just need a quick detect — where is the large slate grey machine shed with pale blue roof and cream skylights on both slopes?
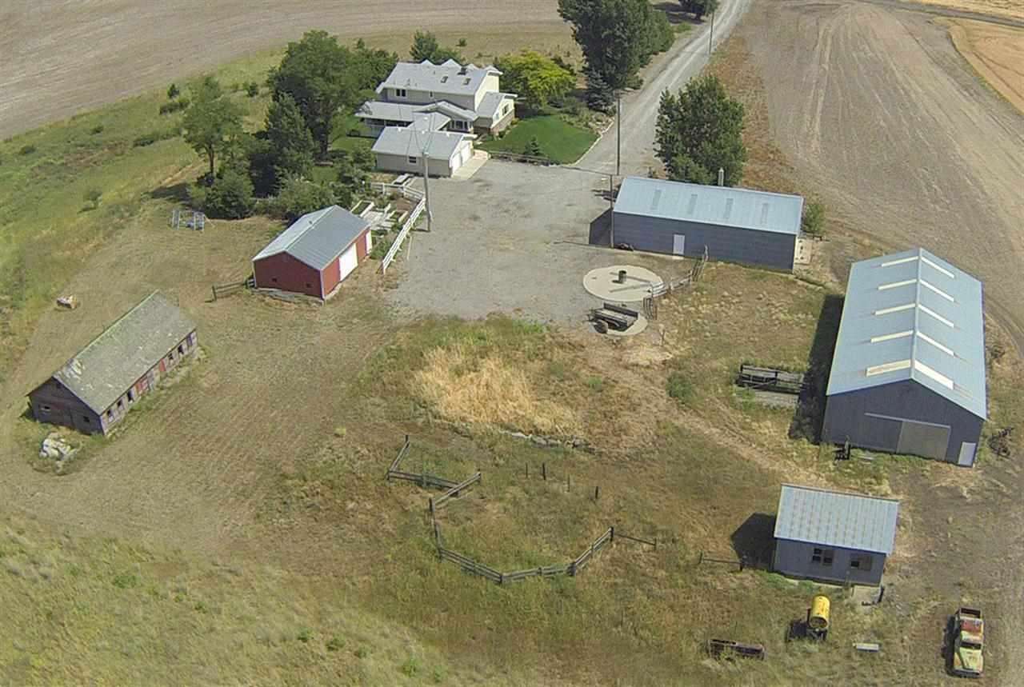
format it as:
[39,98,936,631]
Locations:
[821,248,987,469]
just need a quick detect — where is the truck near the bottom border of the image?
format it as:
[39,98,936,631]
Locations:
[951,601,991,676]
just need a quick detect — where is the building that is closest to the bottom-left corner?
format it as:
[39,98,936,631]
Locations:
[25,292,199,435]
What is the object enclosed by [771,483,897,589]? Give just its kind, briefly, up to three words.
shed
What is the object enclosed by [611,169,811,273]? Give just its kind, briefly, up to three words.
shed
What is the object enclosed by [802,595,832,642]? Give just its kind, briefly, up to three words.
storage tank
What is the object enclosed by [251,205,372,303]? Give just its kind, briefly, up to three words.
barn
